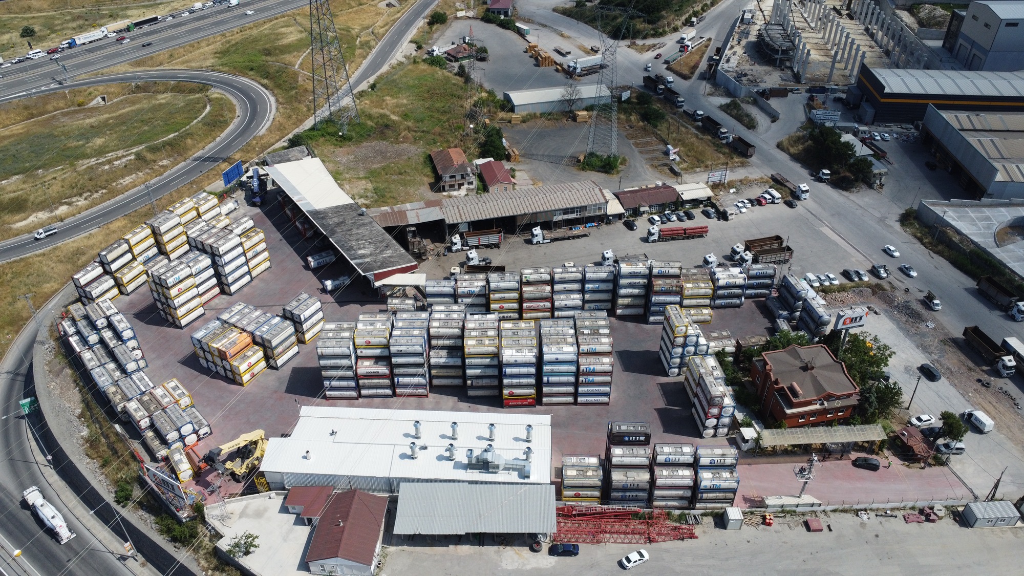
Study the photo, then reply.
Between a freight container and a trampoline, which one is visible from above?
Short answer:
freight container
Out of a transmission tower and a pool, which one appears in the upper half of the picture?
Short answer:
transmission tower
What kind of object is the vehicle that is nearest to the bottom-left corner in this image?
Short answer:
truck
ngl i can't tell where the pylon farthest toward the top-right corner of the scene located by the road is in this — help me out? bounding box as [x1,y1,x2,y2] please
[579,0,647,157]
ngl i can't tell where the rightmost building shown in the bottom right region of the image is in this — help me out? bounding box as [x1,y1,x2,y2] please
[961,500,1021,529]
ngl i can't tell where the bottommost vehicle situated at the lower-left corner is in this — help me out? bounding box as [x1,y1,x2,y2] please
[23,487,77,541]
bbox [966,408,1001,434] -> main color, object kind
white vehicle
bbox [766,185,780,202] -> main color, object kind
white vehicle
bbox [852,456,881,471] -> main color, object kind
black car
